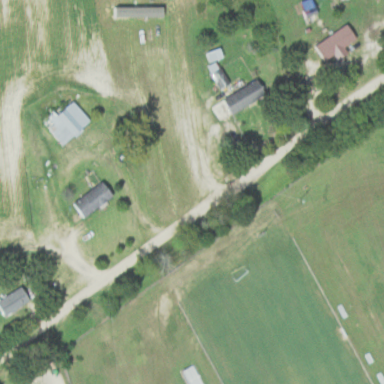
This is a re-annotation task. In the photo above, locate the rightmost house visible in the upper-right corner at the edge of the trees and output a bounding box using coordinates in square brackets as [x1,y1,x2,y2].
[316,25,356,58]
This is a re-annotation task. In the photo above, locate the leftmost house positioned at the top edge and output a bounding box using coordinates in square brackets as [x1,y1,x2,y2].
[114,4,163,22]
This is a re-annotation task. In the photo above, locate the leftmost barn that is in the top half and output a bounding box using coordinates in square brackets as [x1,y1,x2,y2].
[42,103,88,148]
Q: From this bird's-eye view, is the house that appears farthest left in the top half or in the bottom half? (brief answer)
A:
bottom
